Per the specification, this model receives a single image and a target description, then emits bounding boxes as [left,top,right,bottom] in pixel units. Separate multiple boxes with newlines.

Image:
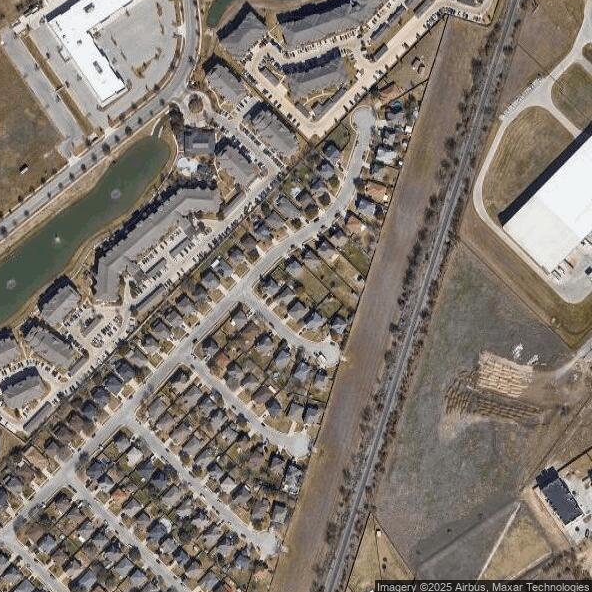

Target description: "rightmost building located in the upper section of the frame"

[503,142,592,274]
